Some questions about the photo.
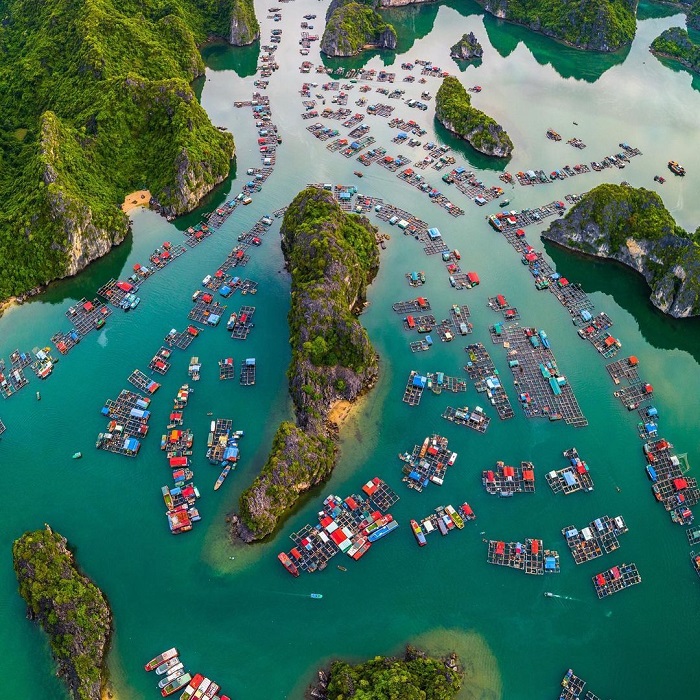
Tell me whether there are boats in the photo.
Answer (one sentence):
Yes, there's a boat down there.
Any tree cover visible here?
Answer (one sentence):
Yes, the picture does contain tree cover.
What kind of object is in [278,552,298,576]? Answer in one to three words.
boat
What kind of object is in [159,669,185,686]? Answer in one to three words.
boat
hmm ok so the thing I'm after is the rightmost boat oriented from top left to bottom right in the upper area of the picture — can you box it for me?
[668,161,686,175]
